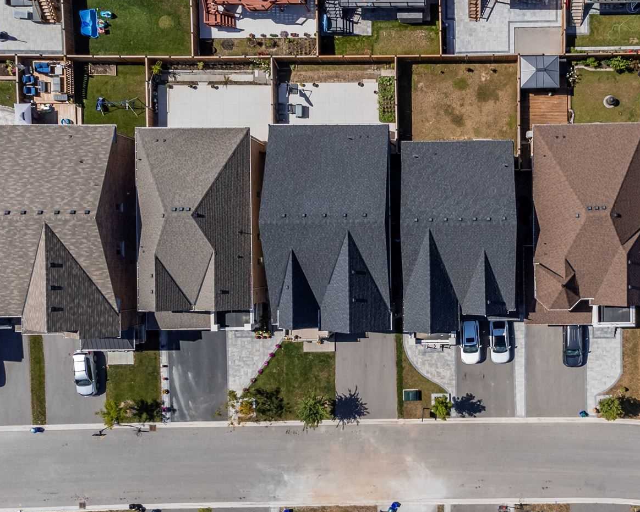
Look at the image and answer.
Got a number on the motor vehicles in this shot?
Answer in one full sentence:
The picture shows 4 motor vehicles.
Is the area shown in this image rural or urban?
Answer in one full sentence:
The area shown here is urban.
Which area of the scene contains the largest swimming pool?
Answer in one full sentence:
The largest swimming pool appears toward the top left of the photo.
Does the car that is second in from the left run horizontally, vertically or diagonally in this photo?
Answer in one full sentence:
From this overhead view, the car that is second in from the left appears to run vertically.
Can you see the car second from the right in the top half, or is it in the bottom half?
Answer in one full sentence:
The car second from the right is in the bottom half of the image.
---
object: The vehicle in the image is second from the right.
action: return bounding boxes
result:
[489,319,511,363]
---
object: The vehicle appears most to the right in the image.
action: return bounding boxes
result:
[562,325,586,367]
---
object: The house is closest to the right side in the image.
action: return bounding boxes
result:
[525,121,640,326]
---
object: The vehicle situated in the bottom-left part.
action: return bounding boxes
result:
[72,351,99,396]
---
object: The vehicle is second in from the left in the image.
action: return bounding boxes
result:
[459,319,482,363]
